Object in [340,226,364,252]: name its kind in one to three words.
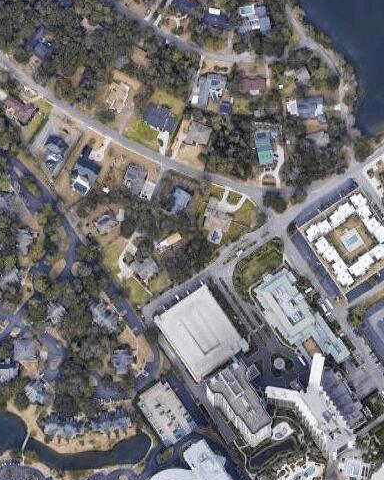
swimming pool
